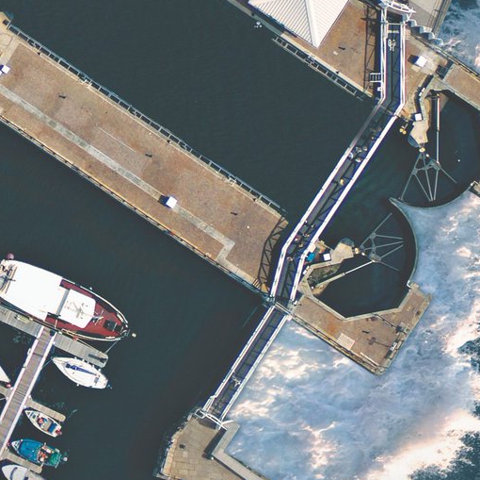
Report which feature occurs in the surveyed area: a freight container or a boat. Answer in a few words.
boat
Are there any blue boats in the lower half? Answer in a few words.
Yes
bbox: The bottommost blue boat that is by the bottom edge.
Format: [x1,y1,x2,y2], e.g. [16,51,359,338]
[10,438,63,472]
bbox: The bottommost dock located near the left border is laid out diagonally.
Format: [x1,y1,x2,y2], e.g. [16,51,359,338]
[0,444,43,473]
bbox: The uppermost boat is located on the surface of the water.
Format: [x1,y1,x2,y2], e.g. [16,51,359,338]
[0,263,131,338]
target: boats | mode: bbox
[53,358,111,391]
[0,263,131,338]
[24,408,64,440]
[10,438,63,472]
[2,466,47,480]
